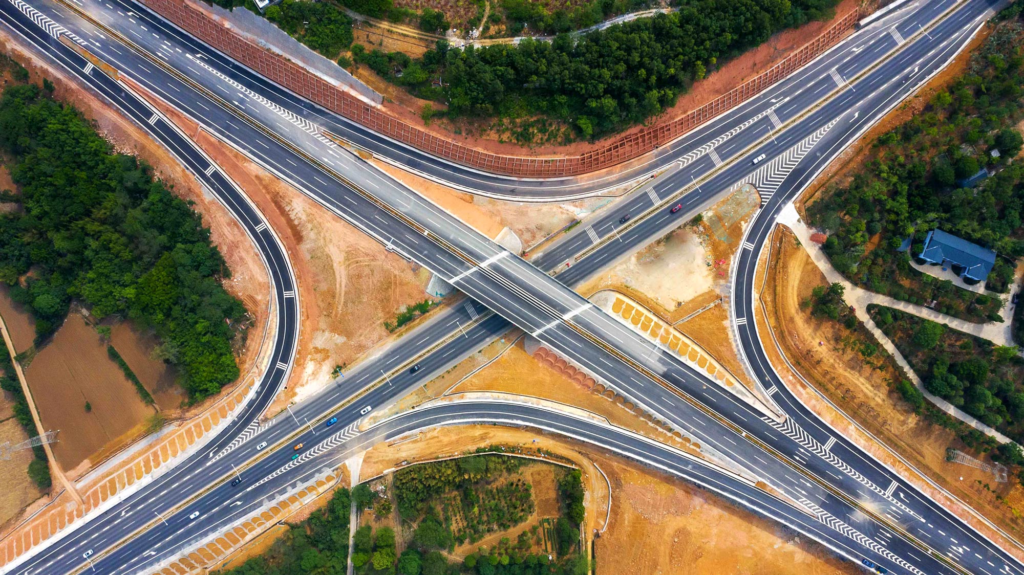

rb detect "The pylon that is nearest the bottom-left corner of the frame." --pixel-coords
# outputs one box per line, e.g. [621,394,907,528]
[1,428,61,458]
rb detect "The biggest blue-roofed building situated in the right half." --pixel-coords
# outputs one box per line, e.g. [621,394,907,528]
[923,228,998,285]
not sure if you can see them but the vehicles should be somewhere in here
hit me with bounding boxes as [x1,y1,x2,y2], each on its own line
[671,204,681,212]
[361,406,371,414]
[753,154,765,164]
[257,441,267,450]
[294,443,304,451]
[862,559,874,568]
[327,417,338,426]
[874,565,888,575]
[189,511,199,519]
[618,214,631,224]
[1011,292,1020,305]
[84,550,94,558]
[231,478,242,487]
[409,365,420,373]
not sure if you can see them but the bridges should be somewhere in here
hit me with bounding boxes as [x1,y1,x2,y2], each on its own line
[456,236,587,350]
